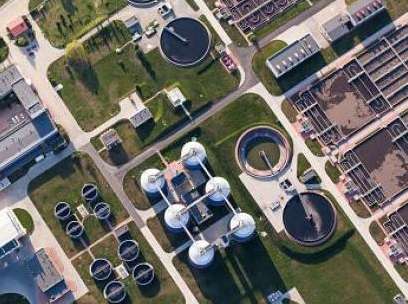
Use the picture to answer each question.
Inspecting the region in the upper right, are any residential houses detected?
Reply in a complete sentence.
Yes, a residential house is visible in the upper right.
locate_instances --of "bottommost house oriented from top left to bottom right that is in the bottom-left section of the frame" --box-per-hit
[33,248,64,285]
